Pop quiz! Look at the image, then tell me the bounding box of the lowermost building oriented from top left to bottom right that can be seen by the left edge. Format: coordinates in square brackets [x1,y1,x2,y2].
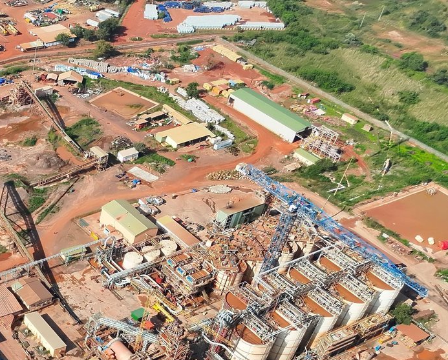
[22,310,68,358]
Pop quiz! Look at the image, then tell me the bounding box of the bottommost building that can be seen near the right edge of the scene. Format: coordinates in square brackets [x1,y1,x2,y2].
[400,326,435,348]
